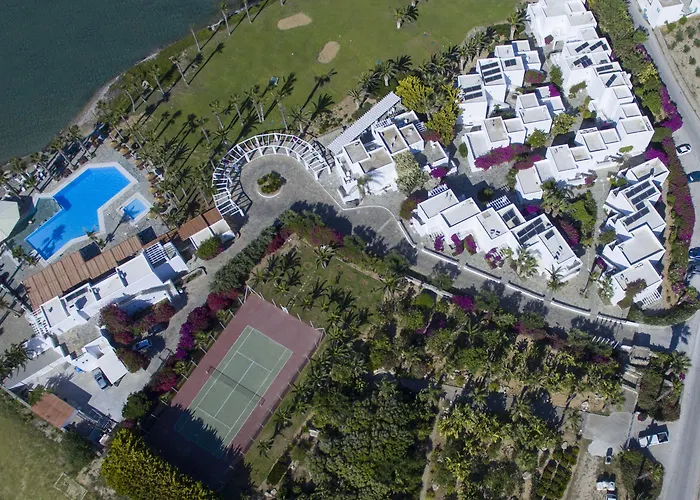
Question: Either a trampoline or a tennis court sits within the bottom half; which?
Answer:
tennis court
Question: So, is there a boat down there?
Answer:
No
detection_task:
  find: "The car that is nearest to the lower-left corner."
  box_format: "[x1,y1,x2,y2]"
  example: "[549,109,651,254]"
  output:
[90,369,107,388]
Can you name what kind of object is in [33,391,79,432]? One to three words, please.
shed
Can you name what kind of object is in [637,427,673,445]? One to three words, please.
vehicle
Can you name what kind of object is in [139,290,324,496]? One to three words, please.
tennis court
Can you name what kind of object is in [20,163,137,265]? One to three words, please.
swimming pool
